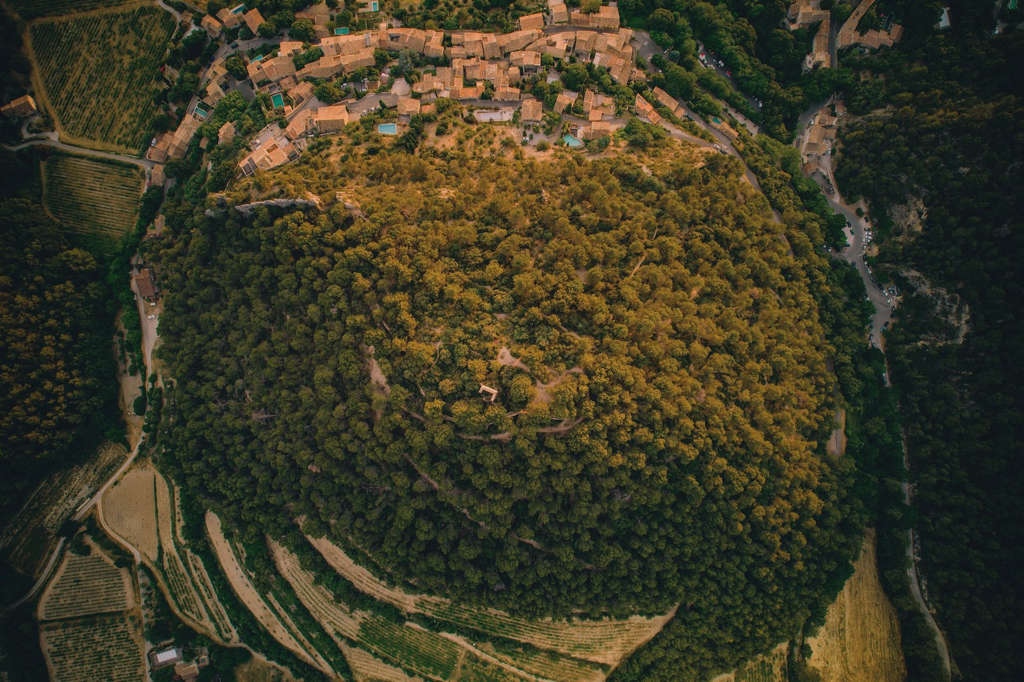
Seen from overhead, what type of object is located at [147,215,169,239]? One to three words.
house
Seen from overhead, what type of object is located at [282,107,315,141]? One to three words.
house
